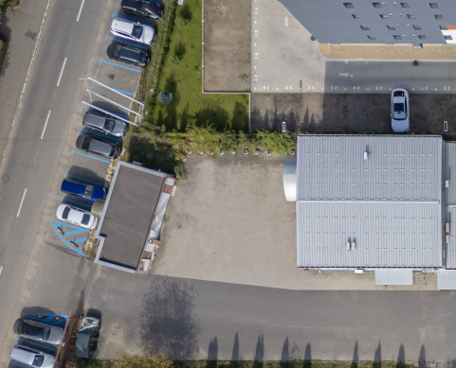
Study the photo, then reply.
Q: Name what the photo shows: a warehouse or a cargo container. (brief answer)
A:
warehouse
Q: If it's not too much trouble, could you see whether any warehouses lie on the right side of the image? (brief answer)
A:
Yes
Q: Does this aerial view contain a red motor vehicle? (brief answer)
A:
No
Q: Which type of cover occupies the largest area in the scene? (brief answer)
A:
paved ground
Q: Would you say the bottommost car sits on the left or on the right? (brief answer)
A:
left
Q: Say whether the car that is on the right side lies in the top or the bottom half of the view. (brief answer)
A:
top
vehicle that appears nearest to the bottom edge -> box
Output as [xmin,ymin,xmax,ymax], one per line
[9,346,56,368]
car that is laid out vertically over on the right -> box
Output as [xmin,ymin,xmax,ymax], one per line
[389,88,410,132]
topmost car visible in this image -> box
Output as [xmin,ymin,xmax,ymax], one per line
[121,0,165,20]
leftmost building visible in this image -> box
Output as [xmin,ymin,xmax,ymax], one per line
[95,161,179,274]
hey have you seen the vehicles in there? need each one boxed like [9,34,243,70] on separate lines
[73,313,102,360]
[9,346,56,368]
[78,133,121,158]
[15,319,65,344]
[121,0,165,20]
[389,88,410,132]
[58,175,108,202]
[55,203,99,229]
[110,18,155,45]
[108,41,150,67]
[82,111,128,135]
